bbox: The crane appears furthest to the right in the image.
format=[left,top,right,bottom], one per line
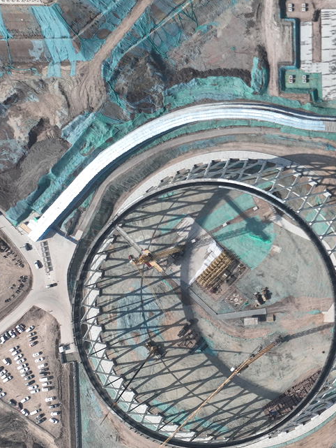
[161,339,270,448]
